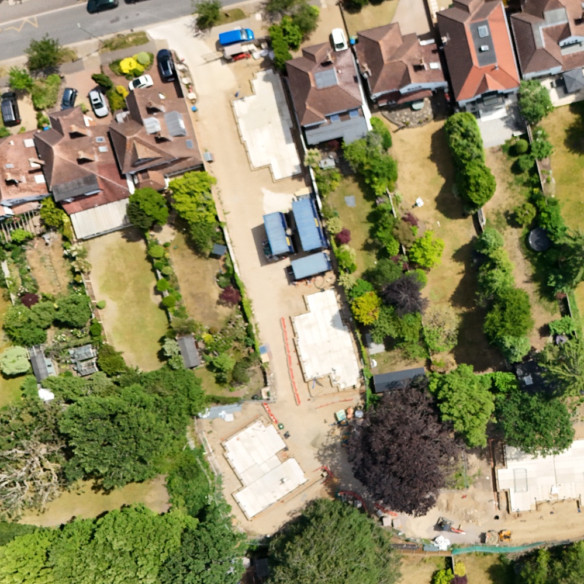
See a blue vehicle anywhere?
Yes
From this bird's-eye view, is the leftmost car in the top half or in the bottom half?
top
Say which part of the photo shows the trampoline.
right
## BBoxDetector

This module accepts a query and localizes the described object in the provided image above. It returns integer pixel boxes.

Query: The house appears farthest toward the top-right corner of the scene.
[510,0,584,80]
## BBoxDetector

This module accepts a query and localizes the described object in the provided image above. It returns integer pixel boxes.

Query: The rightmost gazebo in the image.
[561,68,584,96]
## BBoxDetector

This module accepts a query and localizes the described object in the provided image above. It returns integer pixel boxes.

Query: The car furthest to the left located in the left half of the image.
[3,93,23,127]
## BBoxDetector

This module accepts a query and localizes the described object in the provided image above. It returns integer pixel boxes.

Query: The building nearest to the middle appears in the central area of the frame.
[290,252,333,281]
